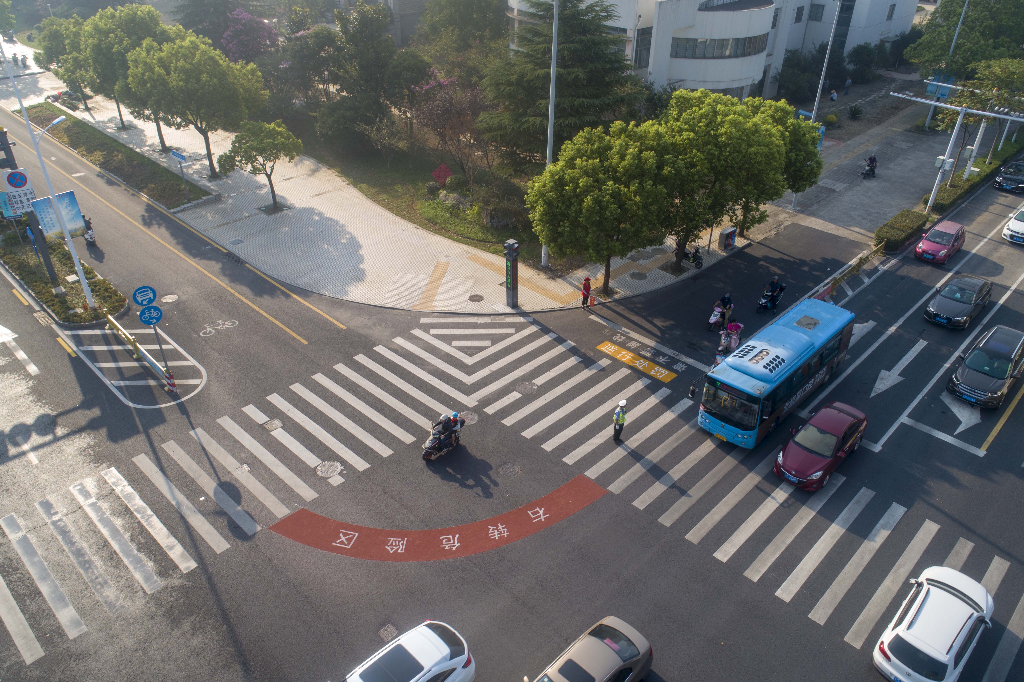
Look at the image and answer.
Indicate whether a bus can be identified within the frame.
Yes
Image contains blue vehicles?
Yes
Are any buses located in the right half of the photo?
Yes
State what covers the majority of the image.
paved ground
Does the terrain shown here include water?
No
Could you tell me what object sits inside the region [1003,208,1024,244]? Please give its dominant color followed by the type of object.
white car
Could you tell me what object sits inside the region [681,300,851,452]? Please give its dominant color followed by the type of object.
blue bus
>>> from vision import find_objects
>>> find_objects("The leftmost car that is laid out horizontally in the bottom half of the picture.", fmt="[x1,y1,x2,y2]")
[337,620,481,682]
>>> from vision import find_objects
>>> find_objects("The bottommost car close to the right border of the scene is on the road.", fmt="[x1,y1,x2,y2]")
[865,565,987,682]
